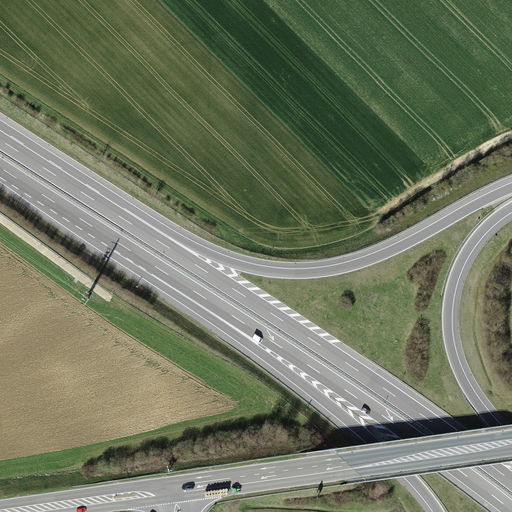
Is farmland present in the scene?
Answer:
Yes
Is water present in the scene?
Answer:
No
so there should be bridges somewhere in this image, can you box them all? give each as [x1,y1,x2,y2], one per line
[329,426,512,484]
